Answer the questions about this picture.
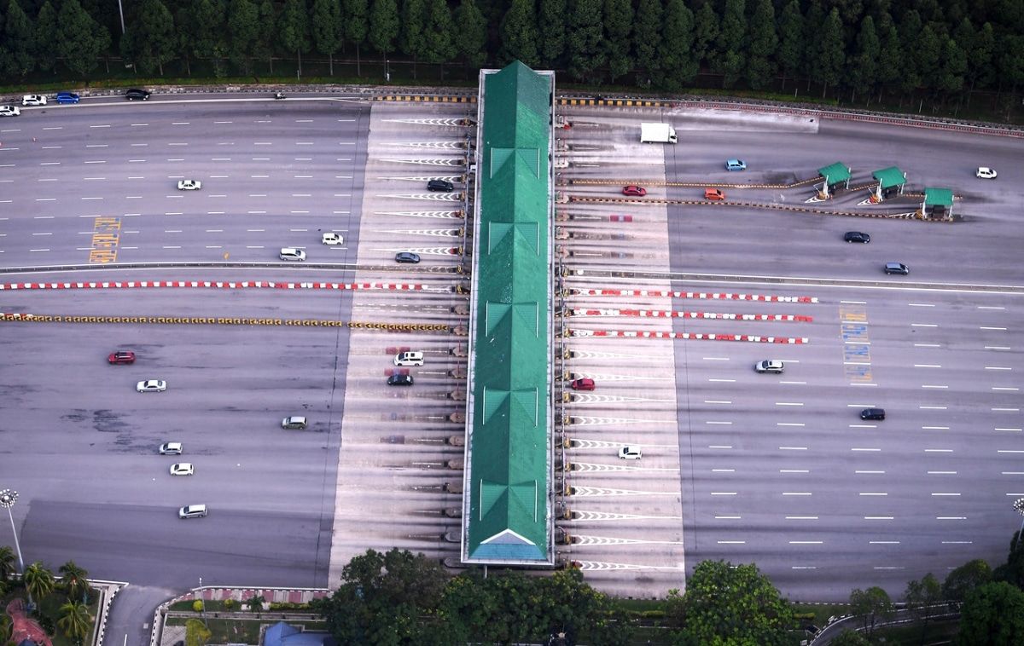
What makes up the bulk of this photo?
paved ground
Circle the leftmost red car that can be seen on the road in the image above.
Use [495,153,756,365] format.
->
[108,351,136,365]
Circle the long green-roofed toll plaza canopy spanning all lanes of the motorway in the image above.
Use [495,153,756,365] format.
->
[462,58,554,585]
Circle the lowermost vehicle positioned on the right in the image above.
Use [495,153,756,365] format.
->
[619,446,642,459]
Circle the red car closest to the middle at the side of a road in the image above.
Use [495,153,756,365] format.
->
[572,379,595,391]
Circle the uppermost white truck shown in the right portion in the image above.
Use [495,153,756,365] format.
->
[639,122,675,144]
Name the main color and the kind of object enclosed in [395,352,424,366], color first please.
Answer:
white car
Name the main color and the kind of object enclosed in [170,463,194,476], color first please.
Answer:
white vehicle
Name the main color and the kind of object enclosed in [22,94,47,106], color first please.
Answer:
white vehicle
